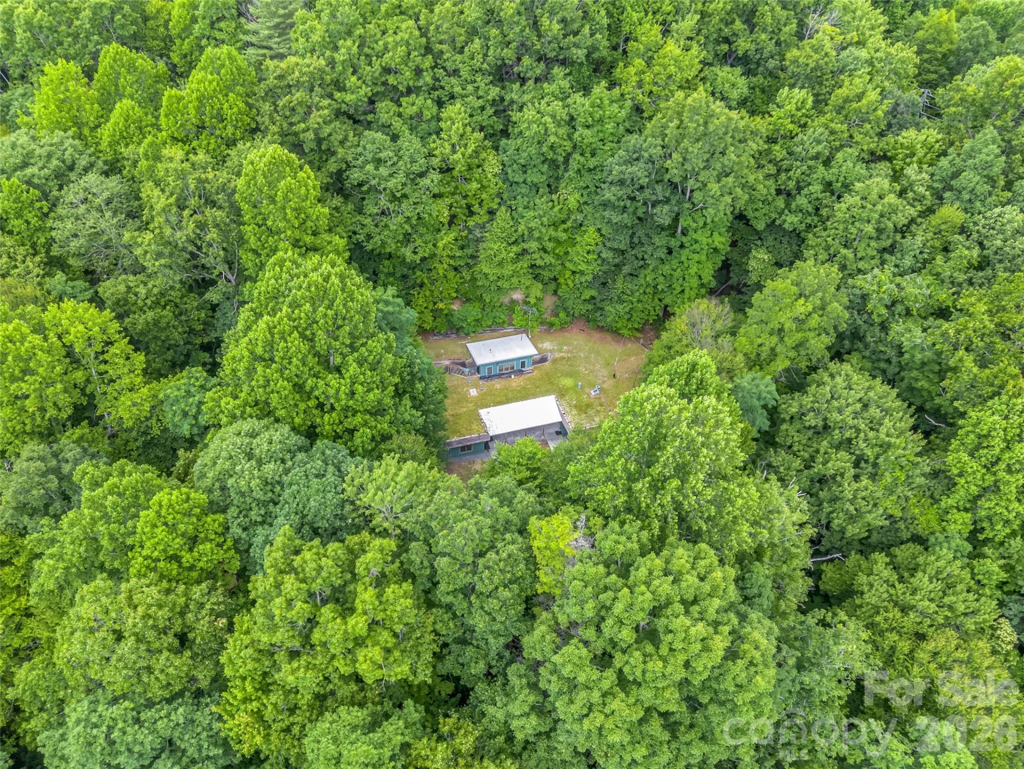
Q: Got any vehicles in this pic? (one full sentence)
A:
No, no vehicle is visible in the scene.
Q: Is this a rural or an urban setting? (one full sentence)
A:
This place is rural.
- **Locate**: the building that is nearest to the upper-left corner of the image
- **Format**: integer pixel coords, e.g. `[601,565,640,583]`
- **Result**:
[466,332,539,380]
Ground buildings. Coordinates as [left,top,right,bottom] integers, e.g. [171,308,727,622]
[434,394,567,468]
[466,332,539,380]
